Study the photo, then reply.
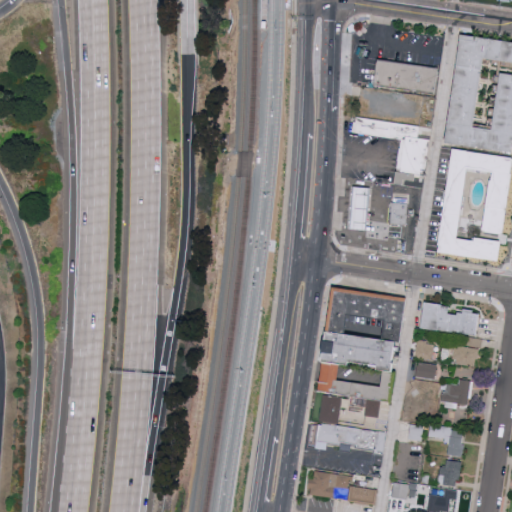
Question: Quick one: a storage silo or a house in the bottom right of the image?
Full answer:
You can see a house in the bottom right of the image.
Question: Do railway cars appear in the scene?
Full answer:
No, the photo shows no railway car.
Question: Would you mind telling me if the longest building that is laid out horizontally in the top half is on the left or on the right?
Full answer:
You can find the longest building that is laid out horizontally in the top half on the right side of the picture.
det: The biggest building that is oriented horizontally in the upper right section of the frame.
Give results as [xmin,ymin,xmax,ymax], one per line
[374,60,438,97]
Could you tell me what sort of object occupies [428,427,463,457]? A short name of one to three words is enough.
house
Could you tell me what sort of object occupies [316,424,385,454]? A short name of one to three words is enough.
building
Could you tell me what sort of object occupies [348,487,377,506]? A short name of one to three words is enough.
building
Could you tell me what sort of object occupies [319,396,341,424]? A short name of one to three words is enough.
house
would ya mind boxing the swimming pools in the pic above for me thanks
[470,179,486,208]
